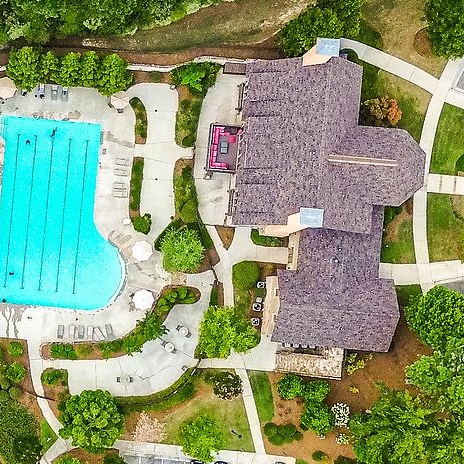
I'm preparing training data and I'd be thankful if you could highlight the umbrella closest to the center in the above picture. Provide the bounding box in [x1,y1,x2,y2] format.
[131,241,152,262]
